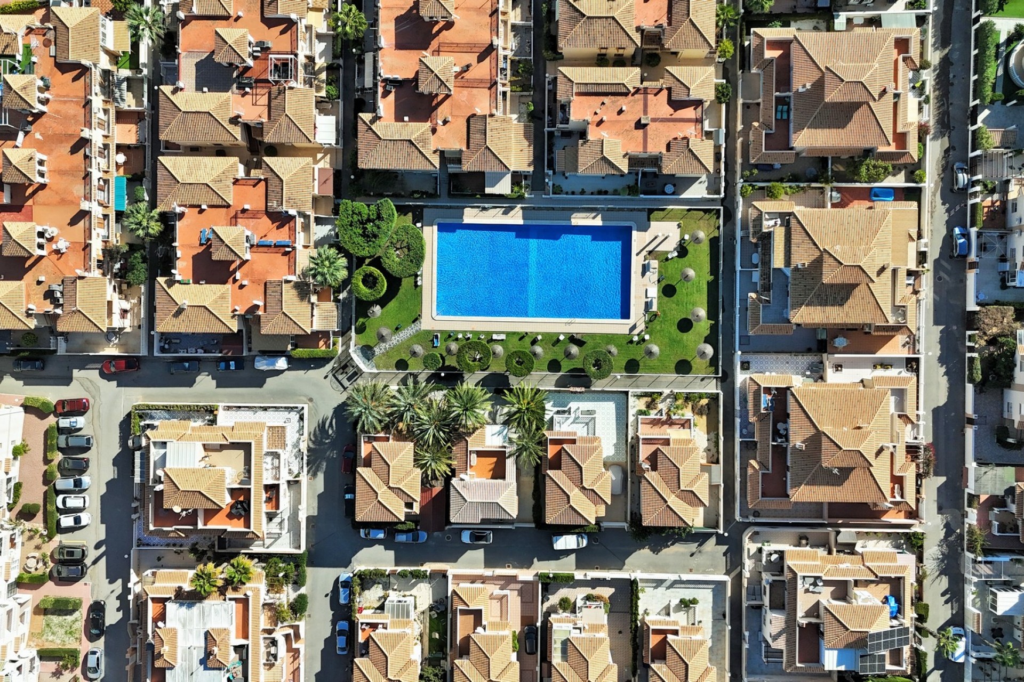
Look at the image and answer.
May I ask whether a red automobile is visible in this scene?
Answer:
Yes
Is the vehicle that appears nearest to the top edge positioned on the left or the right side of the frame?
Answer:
right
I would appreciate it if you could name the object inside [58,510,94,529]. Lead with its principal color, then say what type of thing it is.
white car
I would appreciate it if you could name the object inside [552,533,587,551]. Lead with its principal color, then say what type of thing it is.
white vehicle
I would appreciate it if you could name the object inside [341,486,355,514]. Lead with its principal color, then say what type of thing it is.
black car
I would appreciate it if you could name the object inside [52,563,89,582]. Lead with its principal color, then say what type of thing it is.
gray car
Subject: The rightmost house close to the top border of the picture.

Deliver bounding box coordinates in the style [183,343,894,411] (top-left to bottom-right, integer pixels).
[747,13,920,165]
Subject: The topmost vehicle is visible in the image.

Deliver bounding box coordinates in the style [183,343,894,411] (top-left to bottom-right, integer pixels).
[949,161,970,193]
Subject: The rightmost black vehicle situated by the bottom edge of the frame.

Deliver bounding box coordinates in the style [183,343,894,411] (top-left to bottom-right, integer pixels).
[522,624,537,654]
